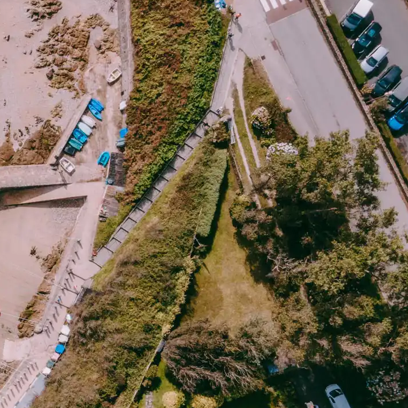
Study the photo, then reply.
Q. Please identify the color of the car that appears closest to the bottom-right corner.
blue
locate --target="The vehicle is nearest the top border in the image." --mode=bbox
[342,0,383,38]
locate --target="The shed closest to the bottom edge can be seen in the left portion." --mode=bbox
[100,188,119,218]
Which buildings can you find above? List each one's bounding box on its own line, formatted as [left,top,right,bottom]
[100,188,119,218]
[106,152,125,187]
